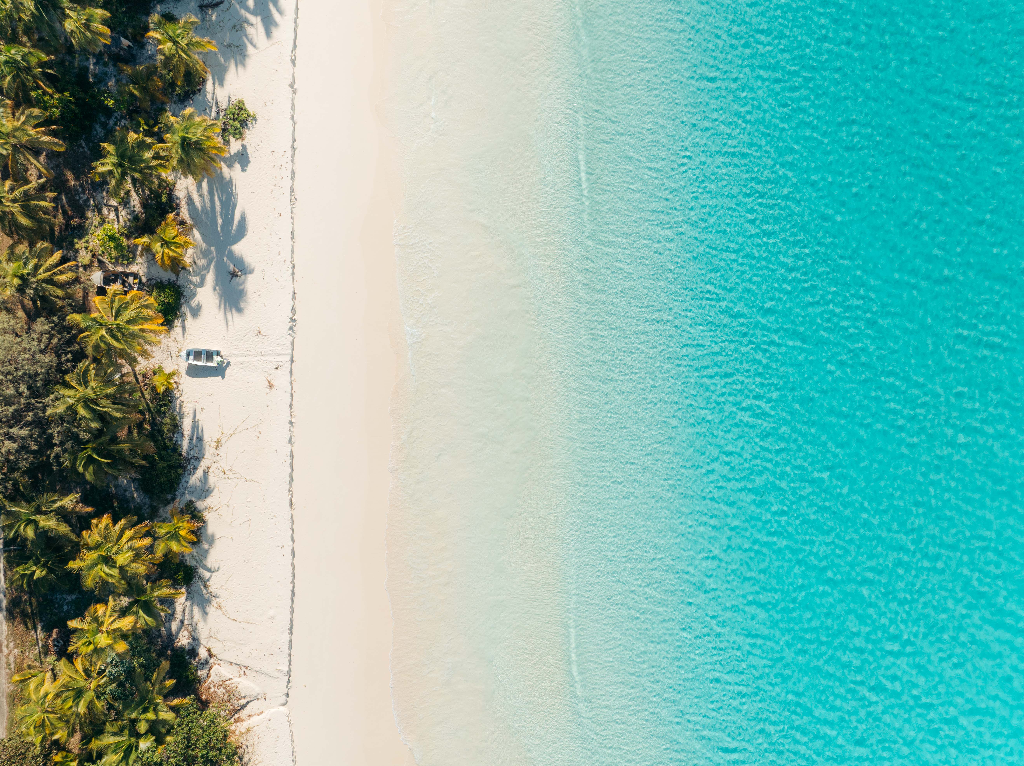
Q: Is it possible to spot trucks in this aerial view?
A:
No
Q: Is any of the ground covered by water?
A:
Yes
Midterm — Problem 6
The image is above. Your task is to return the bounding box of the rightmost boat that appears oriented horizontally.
[179,348,228,366]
